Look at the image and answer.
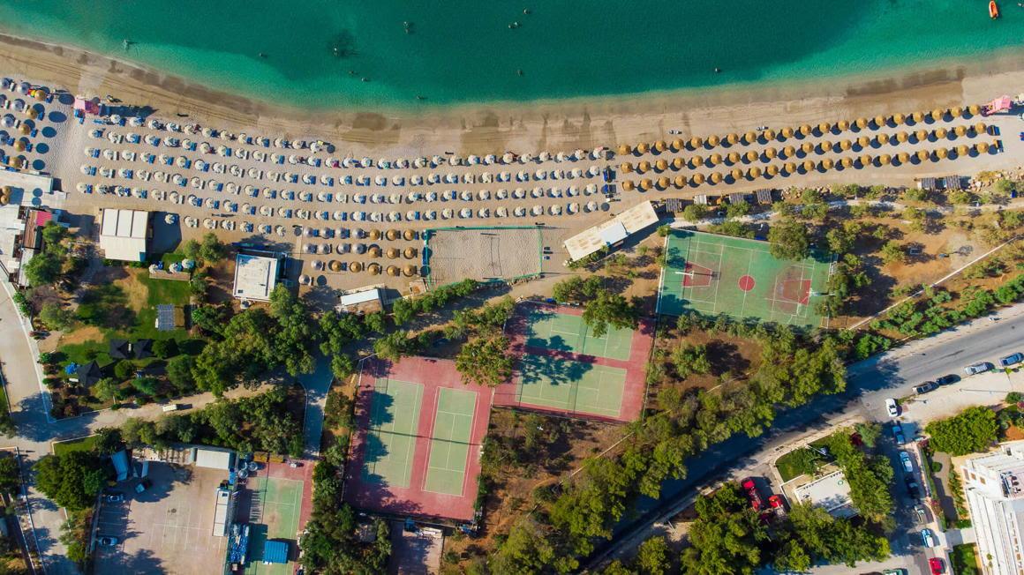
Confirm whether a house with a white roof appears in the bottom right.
Yes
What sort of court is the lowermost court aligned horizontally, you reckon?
tennis court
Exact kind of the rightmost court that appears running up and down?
tennis court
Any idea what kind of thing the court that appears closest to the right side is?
basketball court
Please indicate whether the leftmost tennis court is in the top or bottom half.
bottom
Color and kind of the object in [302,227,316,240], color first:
gray umbrella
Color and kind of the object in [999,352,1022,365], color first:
blue vehicle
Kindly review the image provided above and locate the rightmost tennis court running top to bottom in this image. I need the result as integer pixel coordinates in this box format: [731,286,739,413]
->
[415,360,497,520]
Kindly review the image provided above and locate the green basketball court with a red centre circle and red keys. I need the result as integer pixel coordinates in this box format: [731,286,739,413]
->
[657,229,834,328]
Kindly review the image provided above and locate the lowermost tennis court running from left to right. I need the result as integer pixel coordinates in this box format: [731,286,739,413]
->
[492,350,642,423]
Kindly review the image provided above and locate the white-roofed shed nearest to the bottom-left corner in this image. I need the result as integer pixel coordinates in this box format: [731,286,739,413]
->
[191,447,237,469]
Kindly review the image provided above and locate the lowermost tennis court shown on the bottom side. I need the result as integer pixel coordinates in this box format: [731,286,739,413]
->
[233,461,315,575]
